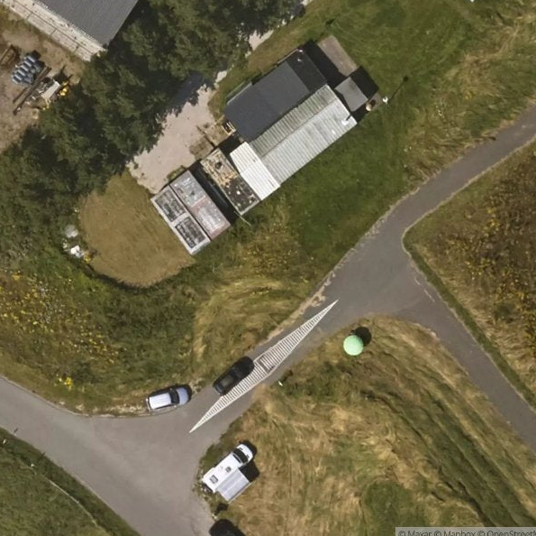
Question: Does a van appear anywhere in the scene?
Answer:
Yes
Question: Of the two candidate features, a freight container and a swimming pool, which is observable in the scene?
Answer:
freight container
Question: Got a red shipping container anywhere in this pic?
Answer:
No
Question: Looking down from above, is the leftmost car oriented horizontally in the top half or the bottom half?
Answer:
bottom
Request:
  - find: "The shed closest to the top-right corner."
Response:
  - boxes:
[335,76,369,113]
